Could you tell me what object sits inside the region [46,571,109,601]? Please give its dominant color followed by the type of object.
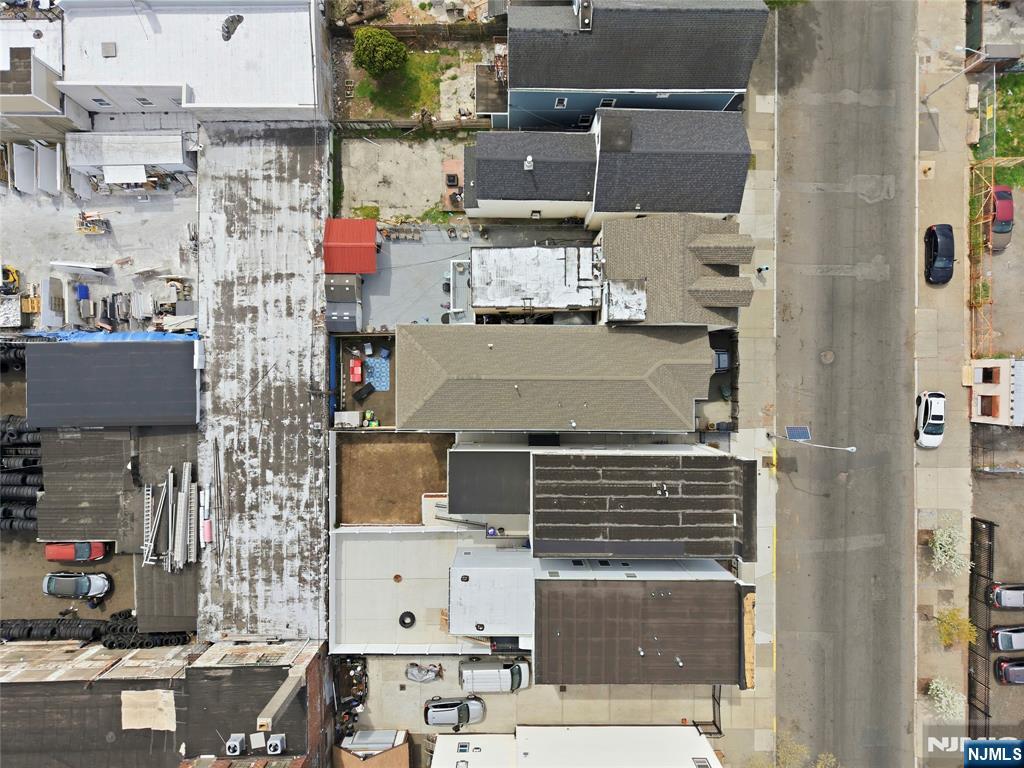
gray car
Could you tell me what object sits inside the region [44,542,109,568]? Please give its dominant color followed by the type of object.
red vehicle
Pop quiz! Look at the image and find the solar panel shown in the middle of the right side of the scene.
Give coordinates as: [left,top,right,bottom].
[785,426,811,440]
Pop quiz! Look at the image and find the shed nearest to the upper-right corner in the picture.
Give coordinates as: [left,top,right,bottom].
[956,45,1021,72]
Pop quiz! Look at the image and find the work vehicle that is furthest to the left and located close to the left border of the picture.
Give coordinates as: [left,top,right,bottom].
[0,265,21,294]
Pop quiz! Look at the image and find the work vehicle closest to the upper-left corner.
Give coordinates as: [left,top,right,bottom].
[71,205,117,236]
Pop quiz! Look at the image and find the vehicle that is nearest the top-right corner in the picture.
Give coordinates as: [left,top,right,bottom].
[984,188,1018,250]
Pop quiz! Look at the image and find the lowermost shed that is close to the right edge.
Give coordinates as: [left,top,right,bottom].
[964,356,1024,431]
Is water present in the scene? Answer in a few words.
No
